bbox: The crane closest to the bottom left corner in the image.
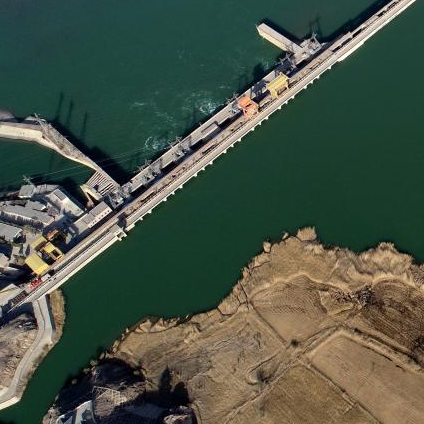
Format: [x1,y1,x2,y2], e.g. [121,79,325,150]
[24,252,58,281]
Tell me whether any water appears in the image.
Yes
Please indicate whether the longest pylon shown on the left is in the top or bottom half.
top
